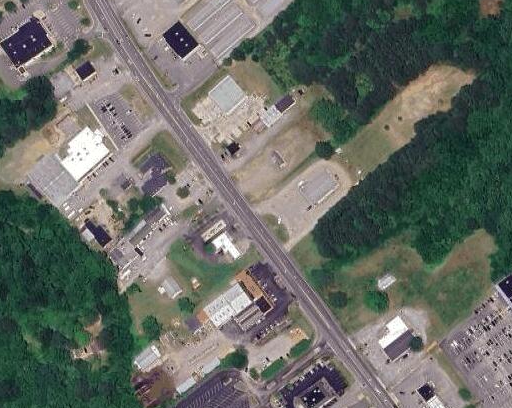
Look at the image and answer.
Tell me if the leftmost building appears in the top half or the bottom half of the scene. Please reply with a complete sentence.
Seen from above, the leftmost building lies in the top half of the view.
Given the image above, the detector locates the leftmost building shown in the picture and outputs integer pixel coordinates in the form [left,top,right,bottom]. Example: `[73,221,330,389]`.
[0,11,54,75]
